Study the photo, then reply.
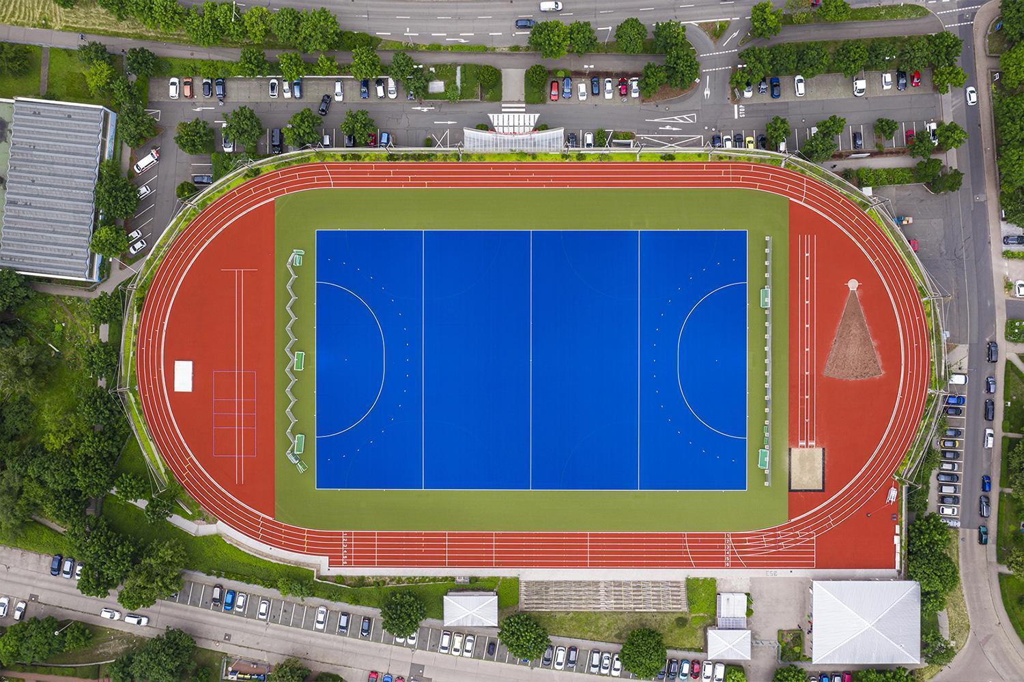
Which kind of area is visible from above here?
sports ground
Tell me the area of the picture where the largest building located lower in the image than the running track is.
bottom right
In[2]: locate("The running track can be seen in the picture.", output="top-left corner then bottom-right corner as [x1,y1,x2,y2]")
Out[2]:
[137,162,927,569]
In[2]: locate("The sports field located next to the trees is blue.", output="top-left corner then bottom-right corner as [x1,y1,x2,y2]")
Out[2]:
[275,188,789,531]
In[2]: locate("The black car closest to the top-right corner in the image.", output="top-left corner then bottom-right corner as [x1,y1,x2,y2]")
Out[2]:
[896,69,908,92]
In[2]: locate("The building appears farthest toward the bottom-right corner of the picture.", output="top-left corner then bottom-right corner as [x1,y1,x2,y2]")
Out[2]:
[809,578,921,665]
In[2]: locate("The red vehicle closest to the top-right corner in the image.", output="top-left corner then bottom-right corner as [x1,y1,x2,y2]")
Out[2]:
[910,69,922,90]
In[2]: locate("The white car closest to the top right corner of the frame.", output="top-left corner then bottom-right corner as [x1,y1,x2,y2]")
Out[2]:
[965,86,978,106]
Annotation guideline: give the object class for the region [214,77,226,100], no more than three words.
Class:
vehicle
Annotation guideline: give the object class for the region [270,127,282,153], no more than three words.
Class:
vehicle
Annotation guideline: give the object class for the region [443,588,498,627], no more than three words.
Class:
building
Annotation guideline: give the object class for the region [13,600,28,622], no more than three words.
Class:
car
